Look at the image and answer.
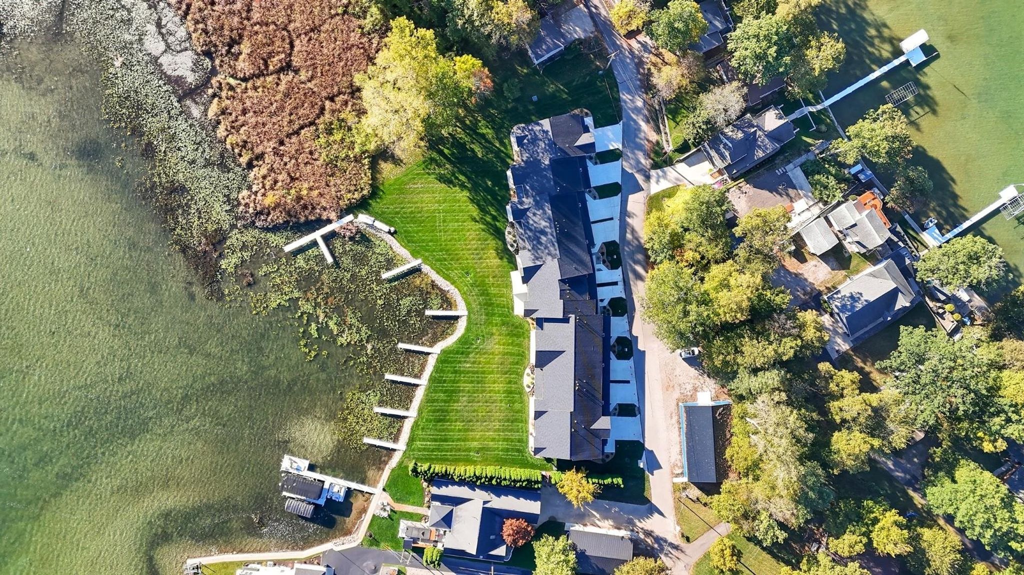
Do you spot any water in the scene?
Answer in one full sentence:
Yes, there's water in this view.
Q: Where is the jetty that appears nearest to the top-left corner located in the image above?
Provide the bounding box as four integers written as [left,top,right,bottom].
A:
[284,214,355,264]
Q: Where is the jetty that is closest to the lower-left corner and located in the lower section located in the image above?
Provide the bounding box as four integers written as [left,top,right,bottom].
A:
[286,469,381,508]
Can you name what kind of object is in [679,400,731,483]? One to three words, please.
shed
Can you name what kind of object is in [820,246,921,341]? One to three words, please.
house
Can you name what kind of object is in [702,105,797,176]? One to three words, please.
house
